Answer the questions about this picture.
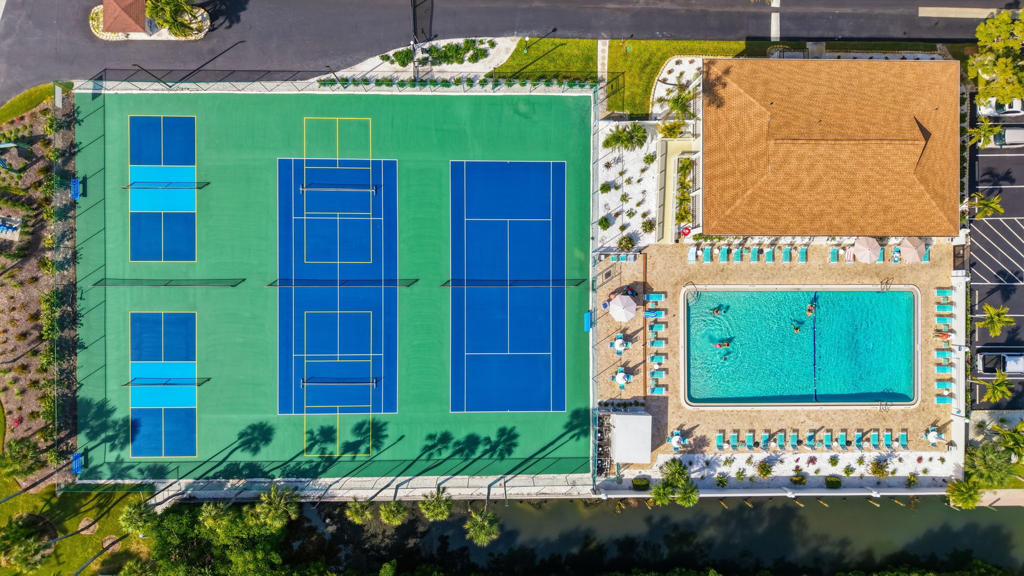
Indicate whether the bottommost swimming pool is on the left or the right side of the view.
right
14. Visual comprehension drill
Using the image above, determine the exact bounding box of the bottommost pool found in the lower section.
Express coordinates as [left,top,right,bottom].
[680,282,921,414]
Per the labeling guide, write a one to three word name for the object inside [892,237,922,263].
umbrella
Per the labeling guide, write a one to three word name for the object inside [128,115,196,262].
sports court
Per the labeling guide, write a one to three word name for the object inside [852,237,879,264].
umbrella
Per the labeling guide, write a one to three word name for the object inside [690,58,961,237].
building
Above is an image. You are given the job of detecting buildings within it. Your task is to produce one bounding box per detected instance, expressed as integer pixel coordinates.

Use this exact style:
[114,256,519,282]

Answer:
[601,410,651,463]
[690,58,961,237]
[103,0,153,34]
